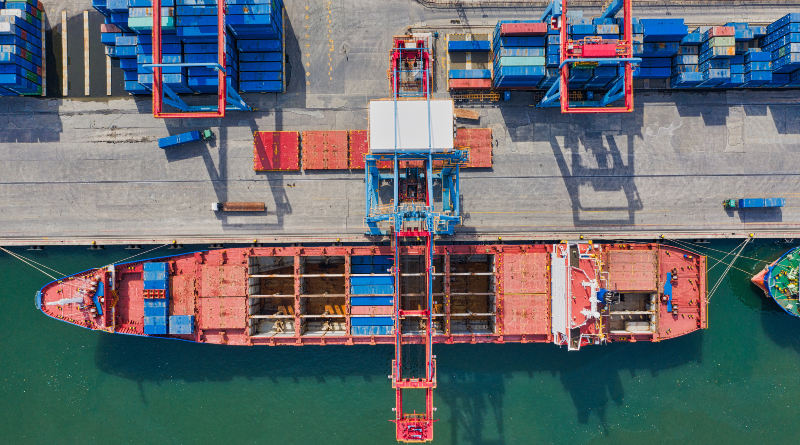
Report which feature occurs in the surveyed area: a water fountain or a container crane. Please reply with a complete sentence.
It is a container crane that can be seen here.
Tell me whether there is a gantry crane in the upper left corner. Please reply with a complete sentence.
Yes, a gantry crane appears in the upper left corner.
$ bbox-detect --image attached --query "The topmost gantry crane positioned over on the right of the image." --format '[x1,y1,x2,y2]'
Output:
[529,0,644,114]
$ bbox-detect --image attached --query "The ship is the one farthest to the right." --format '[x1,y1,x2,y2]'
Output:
[750,244,800,319]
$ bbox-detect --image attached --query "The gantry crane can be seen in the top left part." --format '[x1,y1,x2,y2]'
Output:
[141,0,261,119]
